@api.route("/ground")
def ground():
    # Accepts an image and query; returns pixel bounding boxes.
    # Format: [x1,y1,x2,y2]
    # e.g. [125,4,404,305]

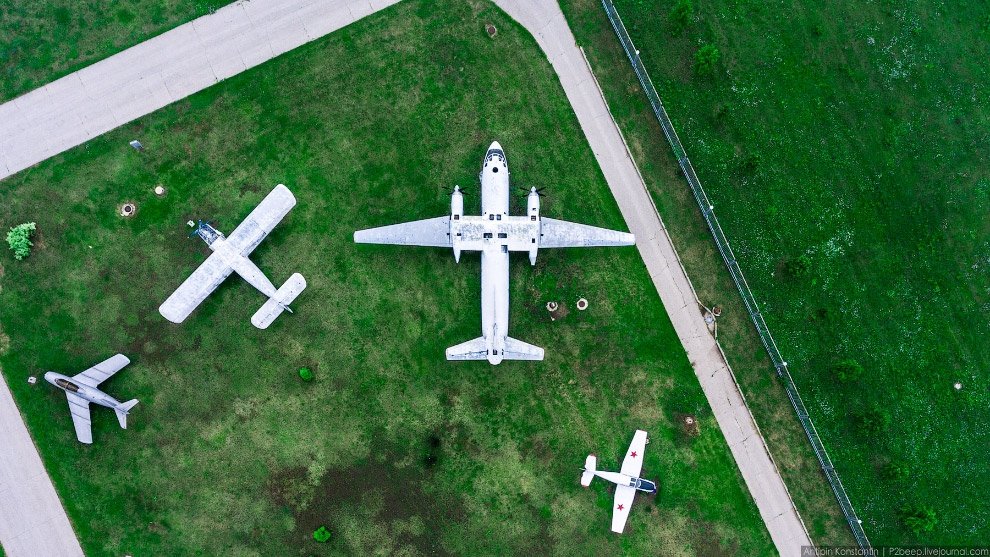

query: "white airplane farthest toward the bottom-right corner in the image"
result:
[579,431,658,533]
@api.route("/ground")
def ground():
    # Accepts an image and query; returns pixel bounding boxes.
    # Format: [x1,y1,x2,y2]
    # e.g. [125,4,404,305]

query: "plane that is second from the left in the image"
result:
[158,186,302,324]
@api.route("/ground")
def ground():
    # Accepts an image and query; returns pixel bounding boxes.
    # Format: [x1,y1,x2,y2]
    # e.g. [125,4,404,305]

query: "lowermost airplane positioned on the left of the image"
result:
[44,354,137,443]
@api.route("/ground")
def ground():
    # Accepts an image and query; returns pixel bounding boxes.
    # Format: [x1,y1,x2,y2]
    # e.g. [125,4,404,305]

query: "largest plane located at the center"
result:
[356,141,634,366]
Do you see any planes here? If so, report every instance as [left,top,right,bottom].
[356,141,634,366]
[579,431,658,533]
[44,354,137,443]
[158,186,302,324]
